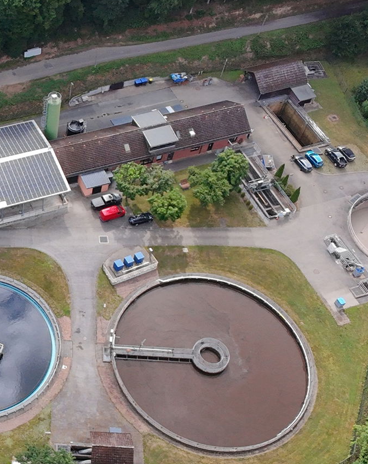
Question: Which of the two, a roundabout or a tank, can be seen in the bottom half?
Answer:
tank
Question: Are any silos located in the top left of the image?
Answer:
Yes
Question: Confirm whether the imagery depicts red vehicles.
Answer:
Yes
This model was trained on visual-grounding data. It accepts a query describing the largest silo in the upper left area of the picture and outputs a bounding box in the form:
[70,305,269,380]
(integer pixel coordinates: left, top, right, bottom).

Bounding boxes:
[36,89,62,142]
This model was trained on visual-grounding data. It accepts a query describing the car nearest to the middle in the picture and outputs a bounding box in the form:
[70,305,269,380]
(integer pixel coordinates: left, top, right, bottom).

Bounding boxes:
[128,212,155,227]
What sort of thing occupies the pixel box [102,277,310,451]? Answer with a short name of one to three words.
storage tank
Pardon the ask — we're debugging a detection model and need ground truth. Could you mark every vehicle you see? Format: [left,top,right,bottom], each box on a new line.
[337,143,361,161]
[292,152,316,172]
[325,144,351,167]
[92,191,123,208]
[304,145,326,166]
[128,212,155,227]
[98,203,128,222]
